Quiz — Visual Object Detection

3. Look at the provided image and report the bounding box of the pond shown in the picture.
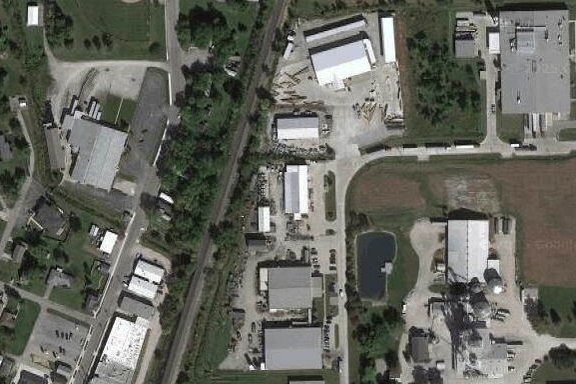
[356,232,396,299]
